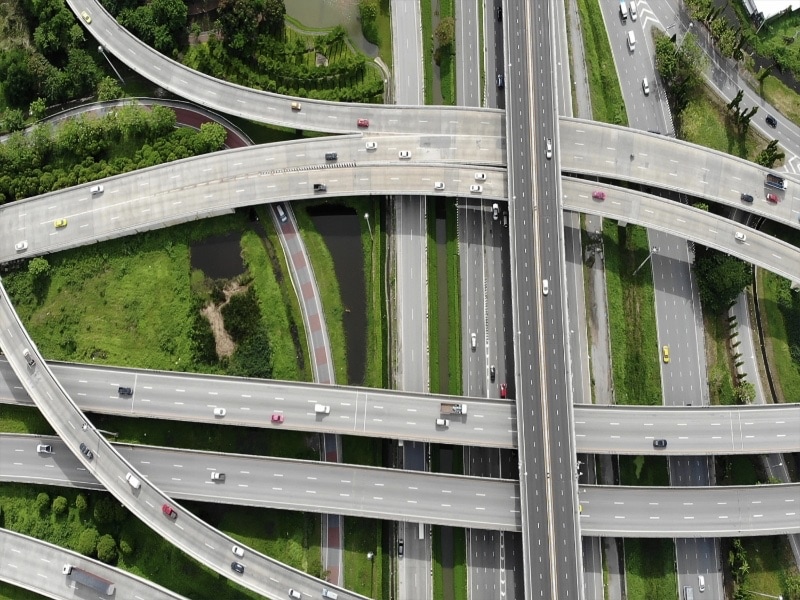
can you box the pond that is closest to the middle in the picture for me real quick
[306,196,369,388]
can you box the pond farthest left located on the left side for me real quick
[189,231,246,284]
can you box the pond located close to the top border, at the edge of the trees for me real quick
[284,0,380,59]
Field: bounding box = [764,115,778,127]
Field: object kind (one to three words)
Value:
vehicle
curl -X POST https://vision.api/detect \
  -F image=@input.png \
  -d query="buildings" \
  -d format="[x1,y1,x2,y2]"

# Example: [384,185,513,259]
[314,52,327,69]
[738,0,800,23]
